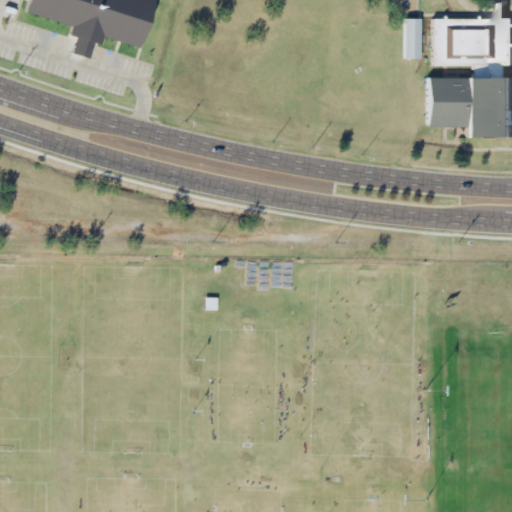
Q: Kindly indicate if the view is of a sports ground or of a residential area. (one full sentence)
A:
This looks like a sports ground.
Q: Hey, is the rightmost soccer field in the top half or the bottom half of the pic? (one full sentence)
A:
The rightmost soccer field sits in the bottom half of the picture.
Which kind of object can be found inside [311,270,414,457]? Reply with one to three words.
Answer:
soccer field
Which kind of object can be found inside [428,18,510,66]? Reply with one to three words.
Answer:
building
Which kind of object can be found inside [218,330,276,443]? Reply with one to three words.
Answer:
soccer field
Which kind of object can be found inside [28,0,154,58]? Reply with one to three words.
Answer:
building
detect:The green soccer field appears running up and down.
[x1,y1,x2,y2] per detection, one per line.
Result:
[449,334,512,512]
